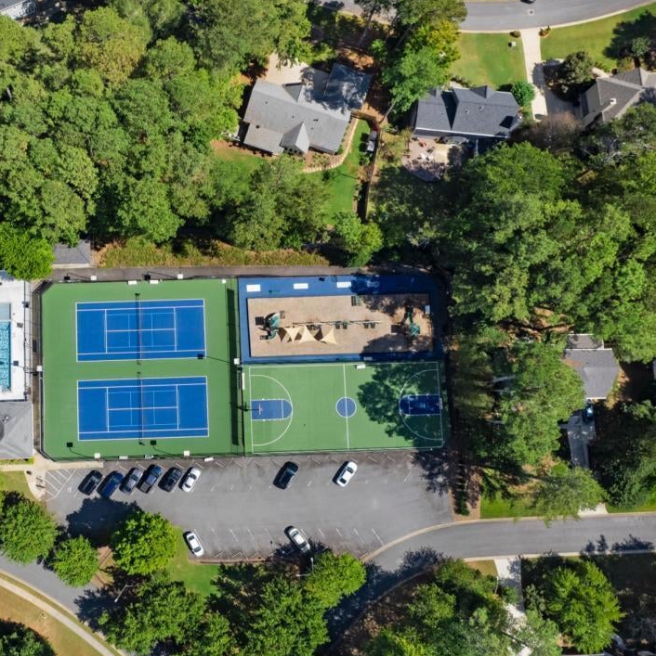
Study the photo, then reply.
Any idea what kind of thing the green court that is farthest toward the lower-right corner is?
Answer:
basketball court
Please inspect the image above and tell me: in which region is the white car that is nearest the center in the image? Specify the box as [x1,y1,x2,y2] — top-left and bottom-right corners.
[336,460,356,488]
